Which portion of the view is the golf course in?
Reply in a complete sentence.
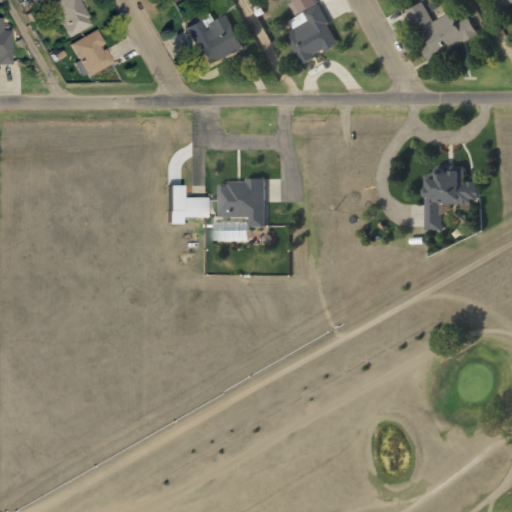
The golf course is in the bottom right part of the image.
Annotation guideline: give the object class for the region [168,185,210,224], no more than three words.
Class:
barn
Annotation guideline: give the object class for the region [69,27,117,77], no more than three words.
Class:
house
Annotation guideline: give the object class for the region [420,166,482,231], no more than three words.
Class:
house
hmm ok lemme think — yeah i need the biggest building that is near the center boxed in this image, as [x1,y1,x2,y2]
[217,179,266,226]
